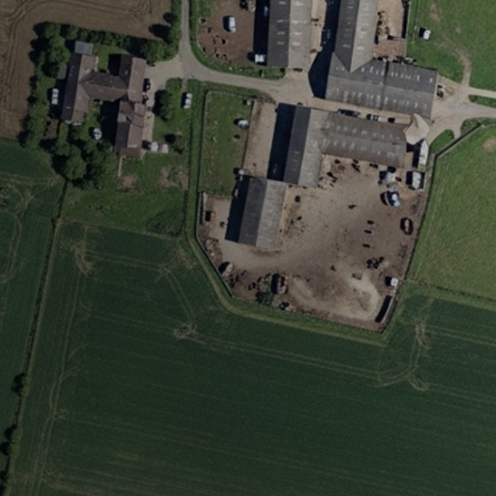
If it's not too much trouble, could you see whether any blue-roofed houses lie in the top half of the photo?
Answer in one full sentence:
No, I can find no blue-roofed house in the top half of the photo.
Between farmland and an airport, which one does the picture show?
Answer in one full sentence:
It's farmland.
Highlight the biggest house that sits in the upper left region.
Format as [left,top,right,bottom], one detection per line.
[60,51,148,159]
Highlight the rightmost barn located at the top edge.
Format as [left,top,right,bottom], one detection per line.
[323,0,439,117]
